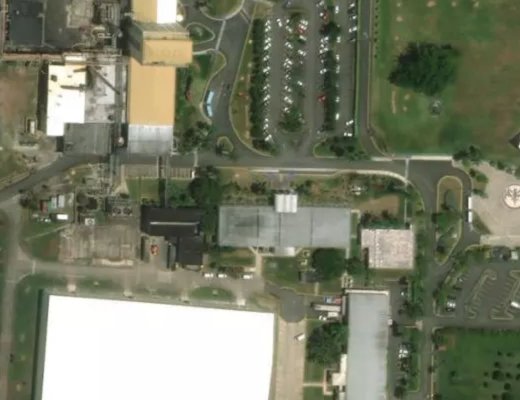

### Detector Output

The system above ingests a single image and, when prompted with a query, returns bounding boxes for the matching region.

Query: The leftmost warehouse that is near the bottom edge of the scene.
[32,289,276,400]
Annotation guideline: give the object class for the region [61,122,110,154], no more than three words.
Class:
building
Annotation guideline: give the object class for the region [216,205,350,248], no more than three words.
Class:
building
